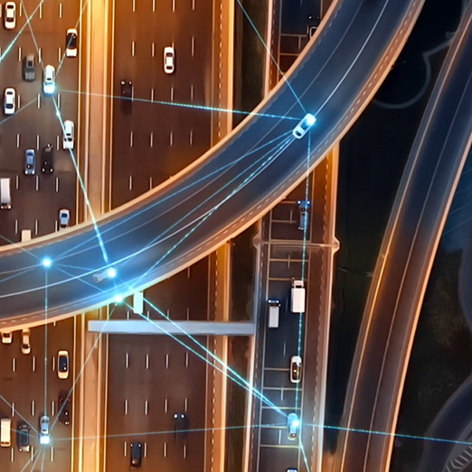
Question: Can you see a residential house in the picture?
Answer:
No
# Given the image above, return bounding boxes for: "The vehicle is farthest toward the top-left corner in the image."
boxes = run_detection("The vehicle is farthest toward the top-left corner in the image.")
[3,1,17,29]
